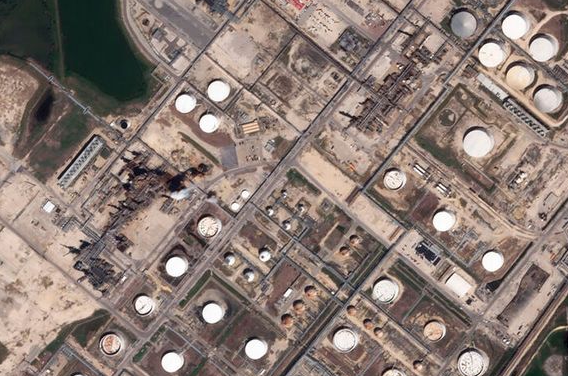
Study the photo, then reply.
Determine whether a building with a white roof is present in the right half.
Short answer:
Yes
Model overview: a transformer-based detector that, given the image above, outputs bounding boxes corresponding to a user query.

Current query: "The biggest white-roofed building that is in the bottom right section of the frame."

[446,272,472,296]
